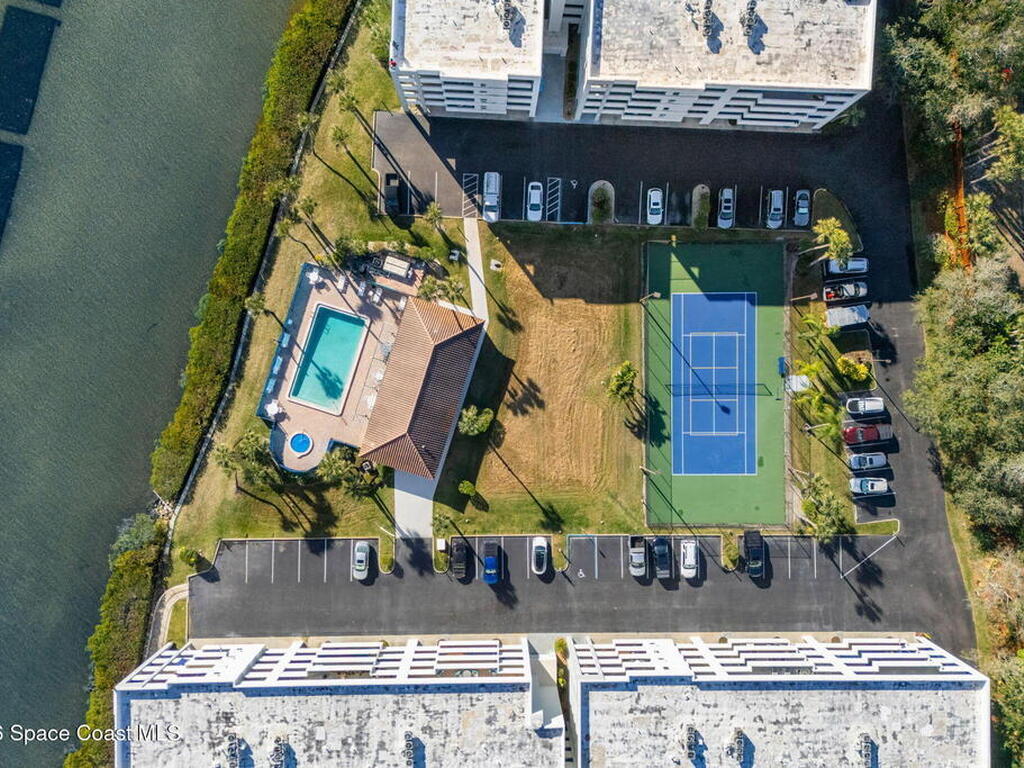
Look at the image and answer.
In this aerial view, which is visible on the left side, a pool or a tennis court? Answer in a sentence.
There is a pool on the left side.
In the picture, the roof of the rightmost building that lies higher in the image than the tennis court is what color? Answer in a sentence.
The roof of the rightmost building that lies higher in the image than the tennis court is white.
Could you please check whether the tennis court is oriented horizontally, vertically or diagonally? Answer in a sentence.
From this overhead view, the tennis court appears to run vertically.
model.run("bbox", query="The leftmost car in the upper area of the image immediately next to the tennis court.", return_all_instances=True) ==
[646,189,664,225]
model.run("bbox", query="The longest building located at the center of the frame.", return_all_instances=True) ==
[359,297,487,479]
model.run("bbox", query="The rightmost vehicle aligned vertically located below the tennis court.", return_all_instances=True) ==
[743,530,764,579]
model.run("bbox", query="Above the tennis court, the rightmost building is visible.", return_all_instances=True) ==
[574,0,877,131]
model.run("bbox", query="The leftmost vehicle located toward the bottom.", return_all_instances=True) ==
[352,541,370,580]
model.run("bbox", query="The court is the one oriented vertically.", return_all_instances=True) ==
[647,241,784,525]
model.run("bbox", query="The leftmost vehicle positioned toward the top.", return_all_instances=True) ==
[381,171,400,216]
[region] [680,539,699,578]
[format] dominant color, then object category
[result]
white car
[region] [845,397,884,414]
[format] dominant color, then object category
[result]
white car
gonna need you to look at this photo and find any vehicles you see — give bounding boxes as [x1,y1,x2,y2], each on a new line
[849,477,889,495]
[824,305,869,328]
[792,190,811,227]
[766,189,786,229]
[743,530,764,579]
[482,171,501,221]
[653,537,672,580]
[451,540,468,579]
[526,182,544,222]
[845,397,884,414]
[823,282,868,300]
[646,189,664,225]
[848,453,887,471]
[680,539,699,578]
[381,171,400,216]
[717,188,736,229]
[531,536,549,575]
[352,541,370,580]
[629,535,647,578]
[827,258,868,274]
[843,425,893,444]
